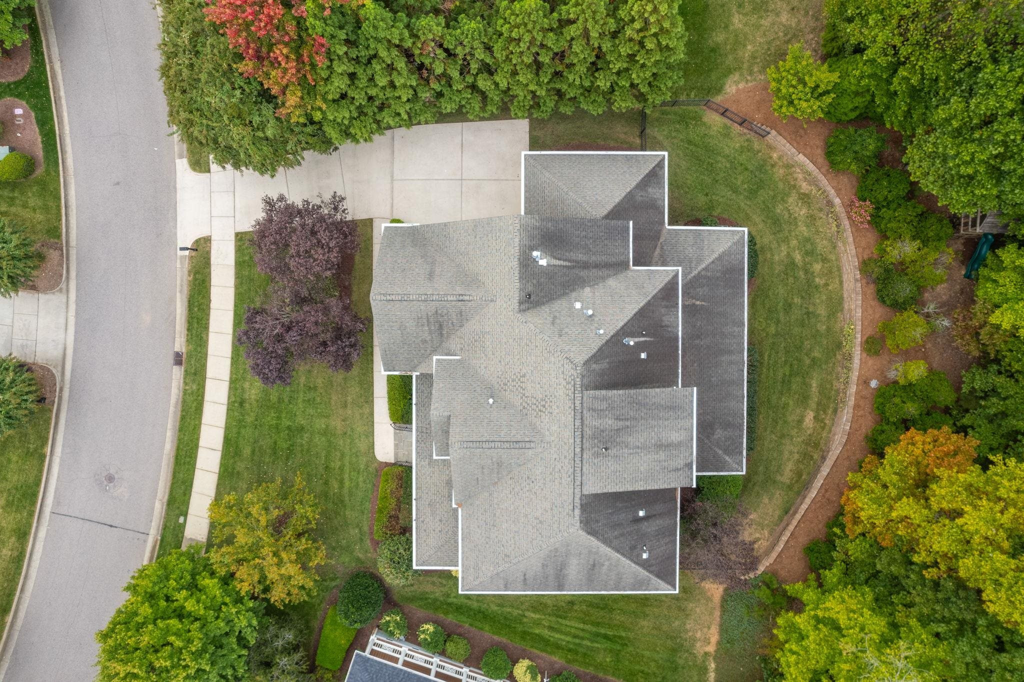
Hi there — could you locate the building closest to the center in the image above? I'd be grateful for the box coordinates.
[370,150,750,596]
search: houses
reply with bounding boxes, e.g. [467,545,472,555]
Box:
[344,629,518,682]
[370,150,750,596]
